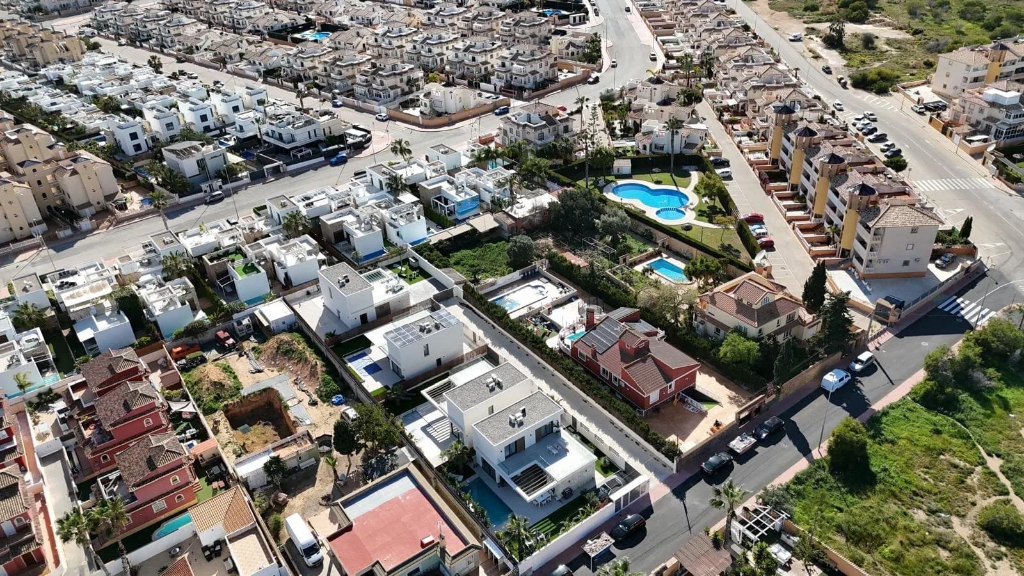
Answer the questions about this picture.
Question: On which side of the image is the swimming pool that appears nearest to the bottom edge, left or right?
left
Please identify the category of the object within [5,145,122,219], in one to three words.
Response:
building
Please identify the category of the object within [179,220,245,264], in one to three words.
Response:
house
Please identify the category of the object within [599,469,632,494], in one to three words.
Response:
car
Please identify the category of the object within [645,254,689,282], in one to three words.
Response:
swimming pool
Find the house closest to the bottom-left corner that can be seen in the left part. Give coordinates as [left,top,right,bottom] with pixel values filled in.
[0,451,52,539]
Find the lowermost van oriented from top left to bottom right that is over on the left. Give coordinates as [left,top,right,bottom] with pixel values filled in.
[281,510,318,559]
